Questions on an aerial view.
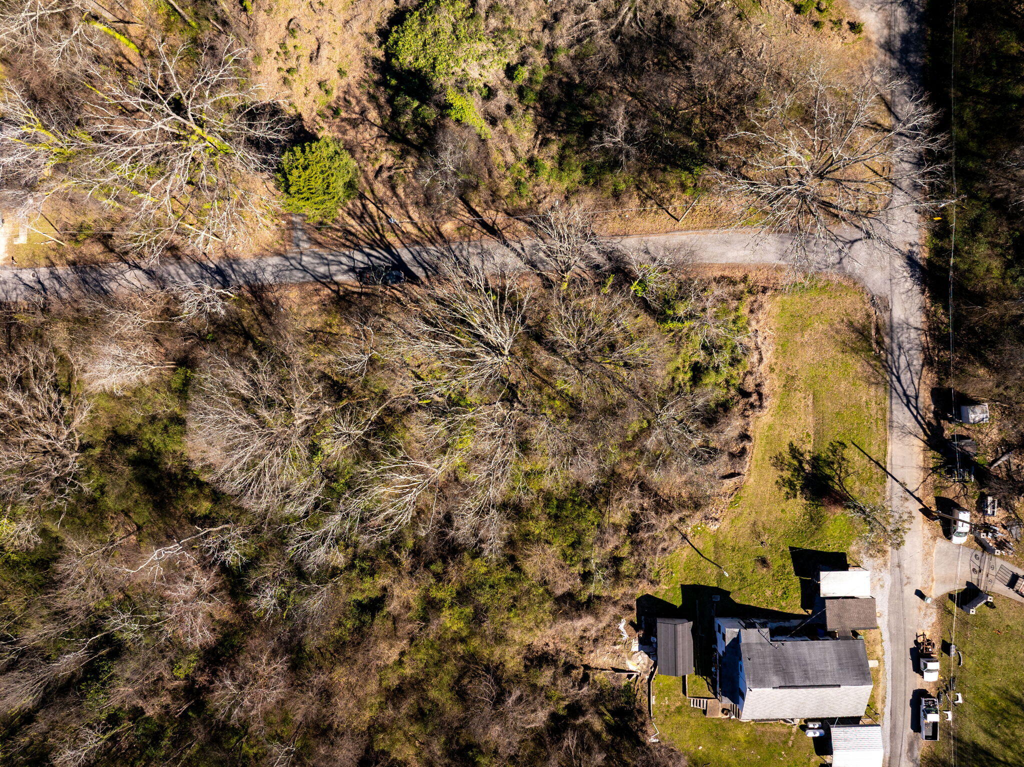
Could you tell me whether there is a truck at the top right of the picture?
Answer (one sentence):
No, I can find no truck at the top right of the picture.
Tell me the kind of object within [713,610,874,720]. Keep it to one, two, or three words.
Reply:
house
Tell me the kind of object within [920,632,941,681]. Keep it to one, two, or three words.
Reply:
truck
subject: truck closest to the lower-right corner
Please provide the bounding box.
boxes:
[920,695,941,741]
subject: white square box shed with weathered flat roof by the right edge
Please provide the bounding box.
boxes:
[959,403,989,424]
